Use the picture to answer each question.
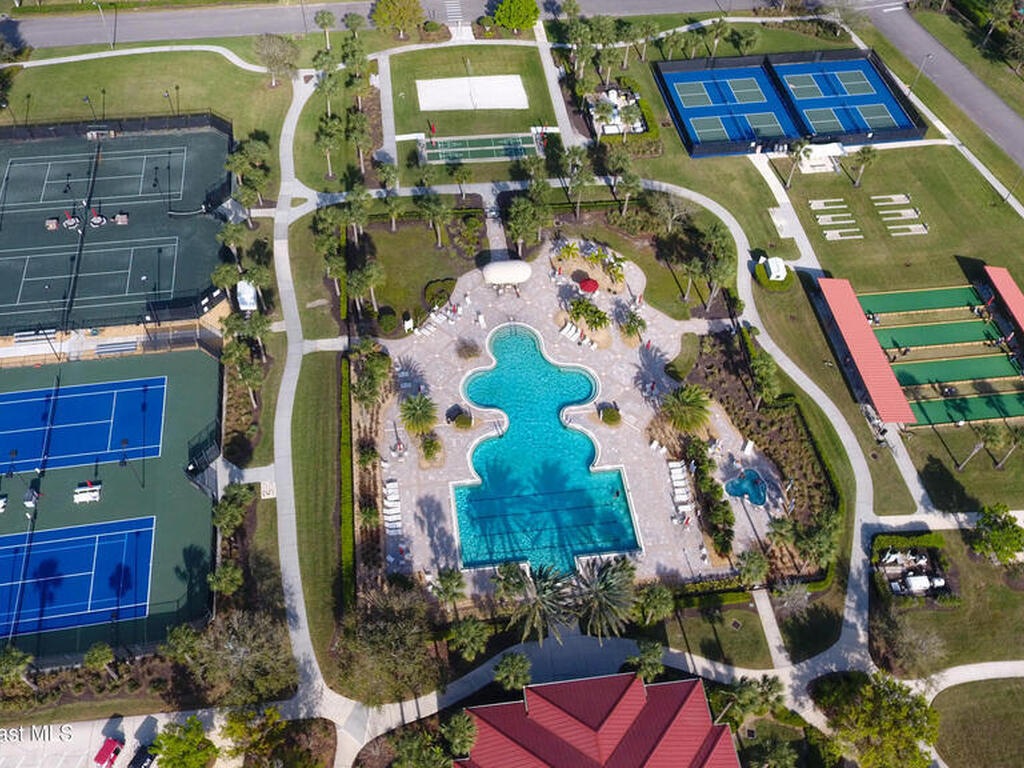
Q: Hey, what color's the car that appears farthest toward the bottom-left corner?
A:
red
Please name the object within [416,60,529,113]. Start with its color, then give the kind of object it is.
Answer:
white sports court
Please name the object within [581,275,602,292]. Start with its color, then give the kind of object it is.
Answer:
red umbrella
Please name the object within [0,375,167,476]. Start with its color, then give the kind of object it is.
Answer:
blue tennis court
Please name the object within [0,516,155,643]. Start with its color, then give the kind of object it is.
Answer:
blue tennis court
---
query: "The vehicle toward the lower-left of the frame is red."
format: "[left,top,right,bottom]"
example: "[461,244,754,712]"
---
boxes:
[91,740,127,768]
